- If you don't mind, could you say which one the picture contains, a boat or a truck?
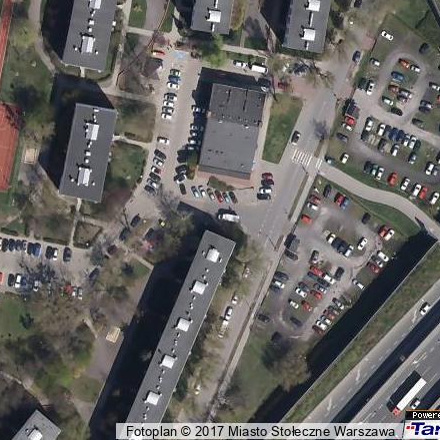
truck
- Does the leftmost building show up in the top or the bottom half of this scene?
bottom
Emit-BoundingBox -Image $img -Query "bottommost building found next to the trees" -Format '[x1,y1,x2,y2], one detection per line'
[14,409,65,440]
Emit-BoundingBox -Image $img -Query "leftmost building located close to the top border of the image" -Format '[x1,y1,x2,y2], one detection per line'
[64,0,120,73]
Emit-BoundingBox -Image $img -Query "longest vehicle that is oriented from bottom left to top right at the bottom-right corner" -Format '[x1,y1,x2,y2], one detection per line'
[390,380,427,414]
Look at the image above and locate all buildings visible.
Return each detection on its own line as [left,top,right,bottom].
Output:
[280,0,333,54]
[188,0,236,35]
[60,103,119,203]
[14,409,65,440]
[118,230,237,440]
[199,83,267,179]
[64,0,120,73]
